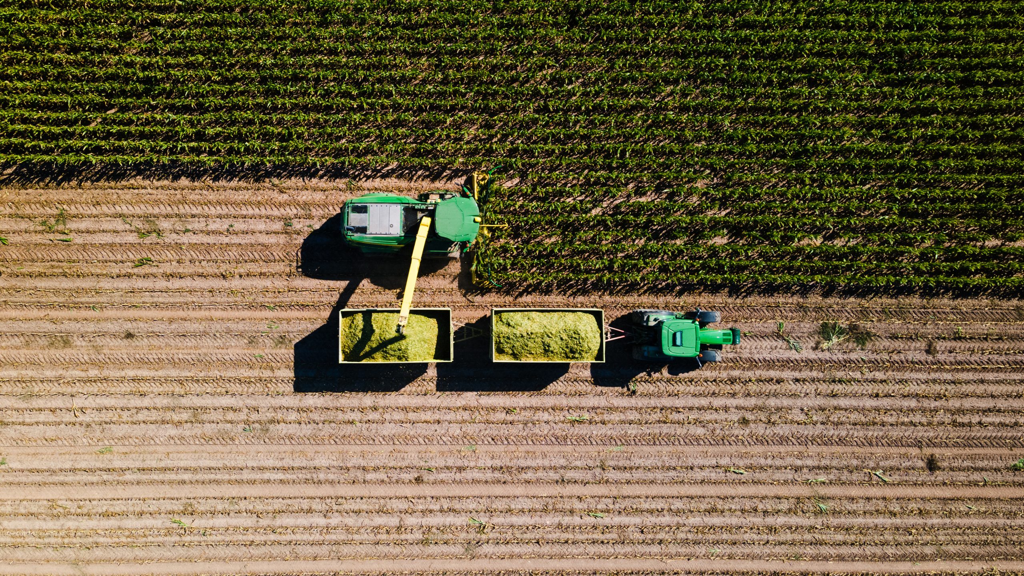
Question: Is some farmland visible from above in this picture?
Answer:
Yes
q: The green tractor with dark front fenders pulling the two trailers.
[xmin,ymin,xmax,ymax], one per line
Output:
[623,306,740,371]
